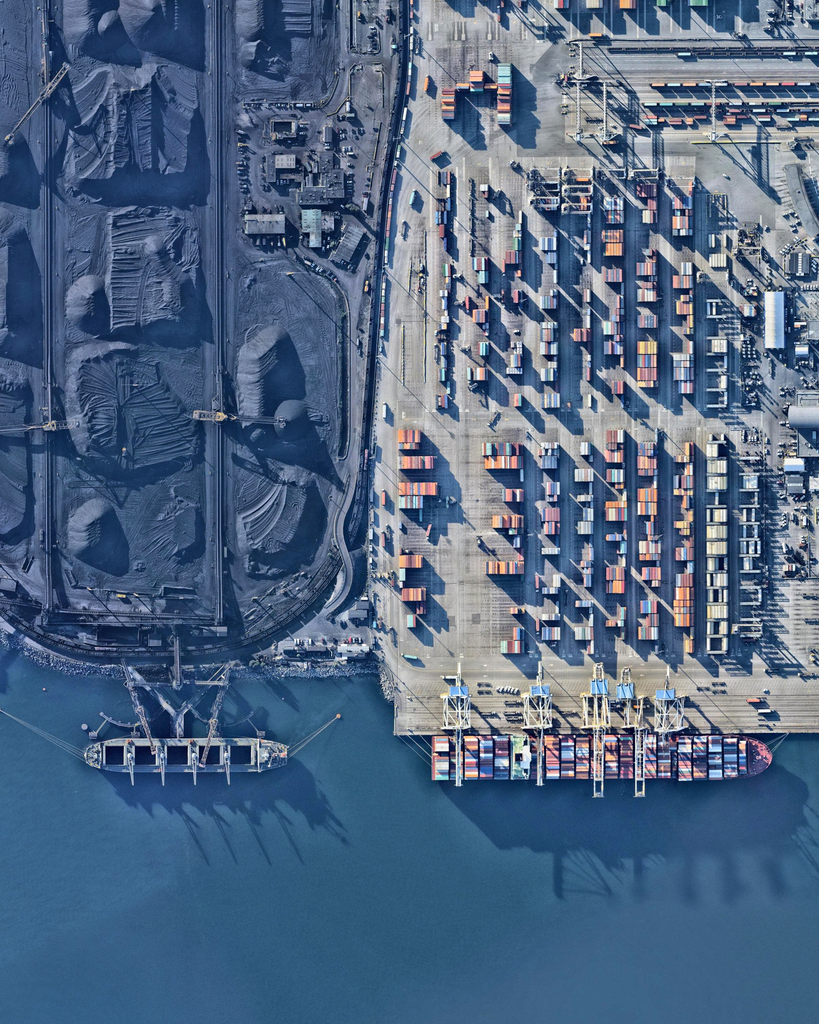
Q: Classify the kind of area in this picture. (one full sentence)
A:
The picture captures a port.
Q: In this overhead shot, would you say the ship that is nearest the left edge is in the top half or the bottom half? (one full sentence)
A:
The ship that is nearest the left edge sits in the bottom half of the picture.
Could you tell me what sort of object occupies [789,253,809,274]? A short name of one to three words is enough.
building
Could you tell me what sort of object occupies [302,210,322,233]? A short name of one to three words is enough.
building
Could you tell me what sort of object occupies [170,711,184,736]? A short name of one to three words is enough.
pier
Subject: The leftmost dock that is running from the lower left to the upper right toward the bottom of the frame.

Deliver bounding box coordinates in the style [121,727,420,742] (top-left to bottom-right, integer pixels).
[180,659,235,716]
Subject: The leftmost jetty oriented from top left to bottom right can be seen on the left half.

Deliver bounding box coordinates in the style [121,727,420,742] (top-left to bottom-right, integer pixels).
[126,664,181,719]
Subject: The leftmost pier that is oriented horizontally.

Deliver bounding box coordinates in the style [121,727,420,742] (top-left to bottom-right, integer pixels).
[99,708,166,728]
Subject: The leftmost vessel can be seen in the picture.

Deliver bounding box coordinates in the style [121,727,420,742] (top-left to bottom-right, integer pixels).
[84,738,287,786]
